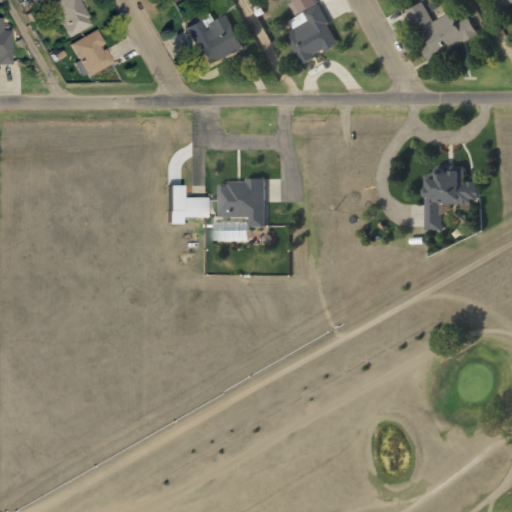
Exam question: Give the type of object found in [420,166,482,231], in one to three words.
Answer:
house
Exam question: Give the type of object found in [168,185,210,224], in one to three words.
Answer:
barn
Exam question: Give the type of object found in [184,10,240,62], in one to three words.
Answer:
house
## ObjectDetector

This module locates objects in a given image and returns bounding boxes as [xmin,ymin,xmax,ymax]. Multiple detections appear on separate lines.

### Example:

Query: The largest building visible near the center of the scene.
[217,179,266,226]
